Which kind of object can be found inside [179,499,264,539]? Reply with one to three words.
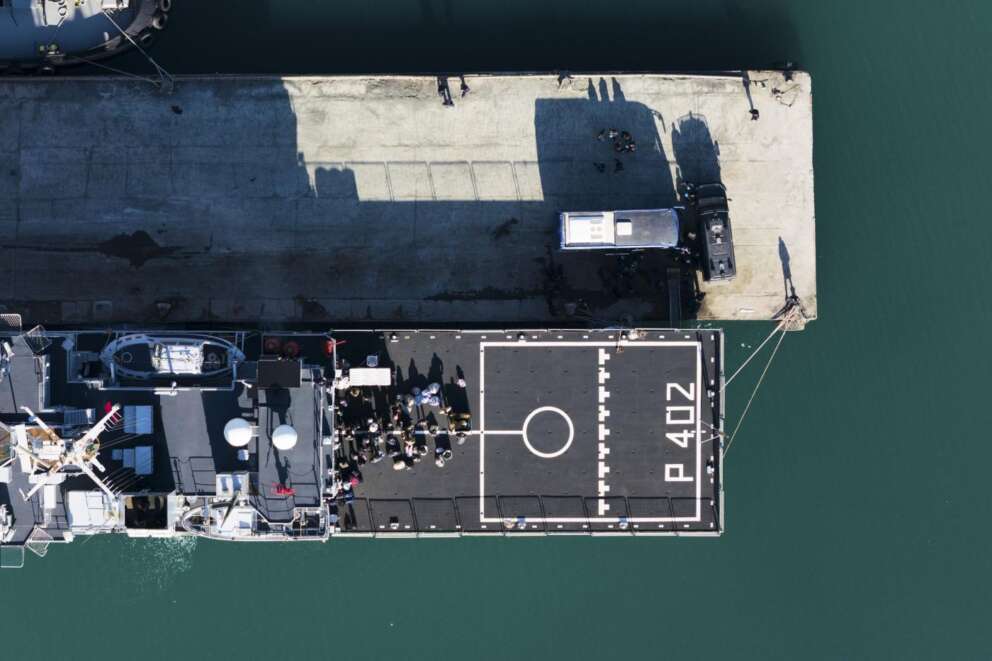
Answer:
boat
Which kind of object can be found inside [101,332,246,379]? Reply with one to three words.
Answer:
boat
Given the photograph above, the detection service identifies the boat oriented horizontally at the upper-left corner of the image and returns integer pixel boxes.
[0,0,170,74]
